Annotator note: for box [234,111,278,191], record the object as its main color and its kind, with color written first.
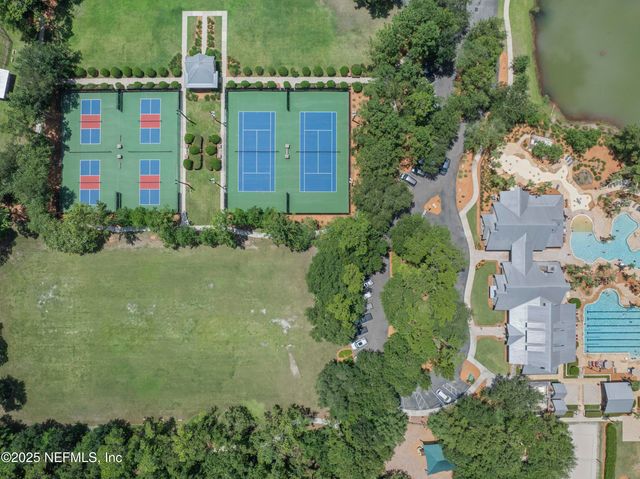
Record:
blue tennis court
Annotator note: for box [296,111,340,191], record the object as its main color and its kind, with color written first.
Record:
blue tennis court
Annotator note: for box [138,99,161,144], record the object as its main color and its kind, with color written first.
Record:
blue sports court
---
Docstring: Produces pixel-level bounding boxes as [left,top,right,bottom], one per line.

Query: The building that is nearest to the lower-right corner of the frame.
[599,381,635,413]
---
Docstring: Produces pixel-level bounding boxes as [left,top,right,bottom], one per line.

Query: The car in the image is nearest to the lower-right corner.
[436,388,451,402]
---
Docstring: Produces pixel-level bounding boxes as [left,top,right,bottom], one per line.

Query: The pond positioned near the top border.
[536,0,640,128]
